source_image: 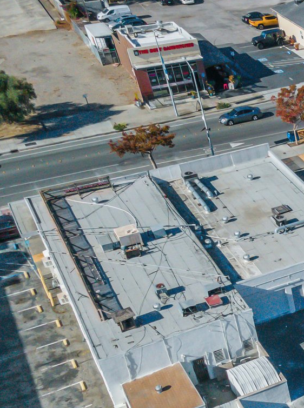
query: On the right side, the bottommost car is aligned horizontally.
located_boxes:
[218,105,264,125]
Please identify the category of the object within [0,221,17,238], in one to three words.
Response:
car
